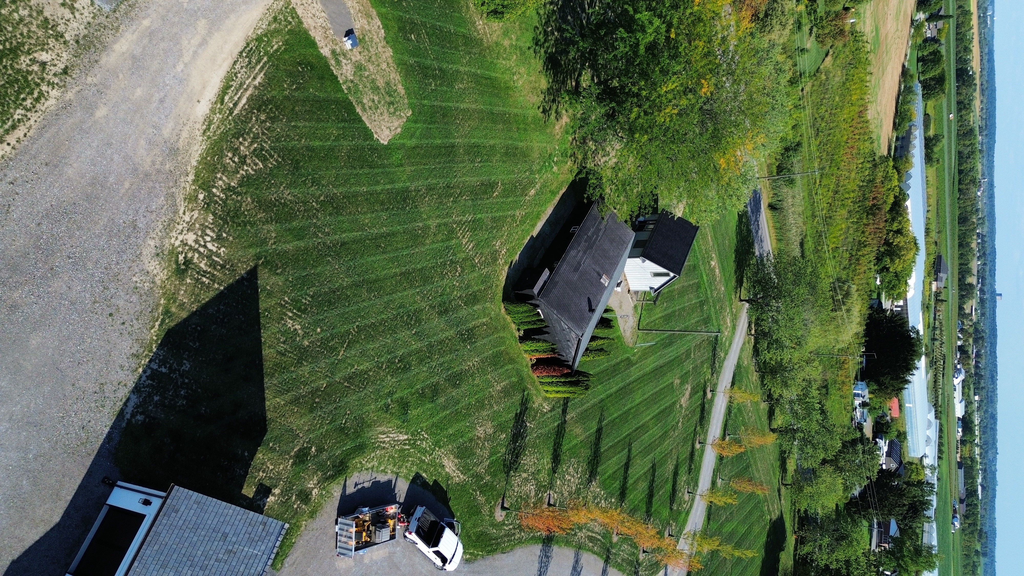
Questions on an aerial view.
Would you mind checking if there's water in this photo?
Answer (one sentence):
No, water can't be seen anywhere here.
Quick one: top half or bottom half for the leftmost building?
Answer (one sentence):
Seen from above, the leftmost building lies in the bottom half of the view.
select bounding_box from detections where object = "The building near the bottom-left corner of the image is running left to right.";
[54,480,278,576]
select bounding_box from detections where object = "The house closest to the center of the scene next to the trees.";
[506,197,636,373]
